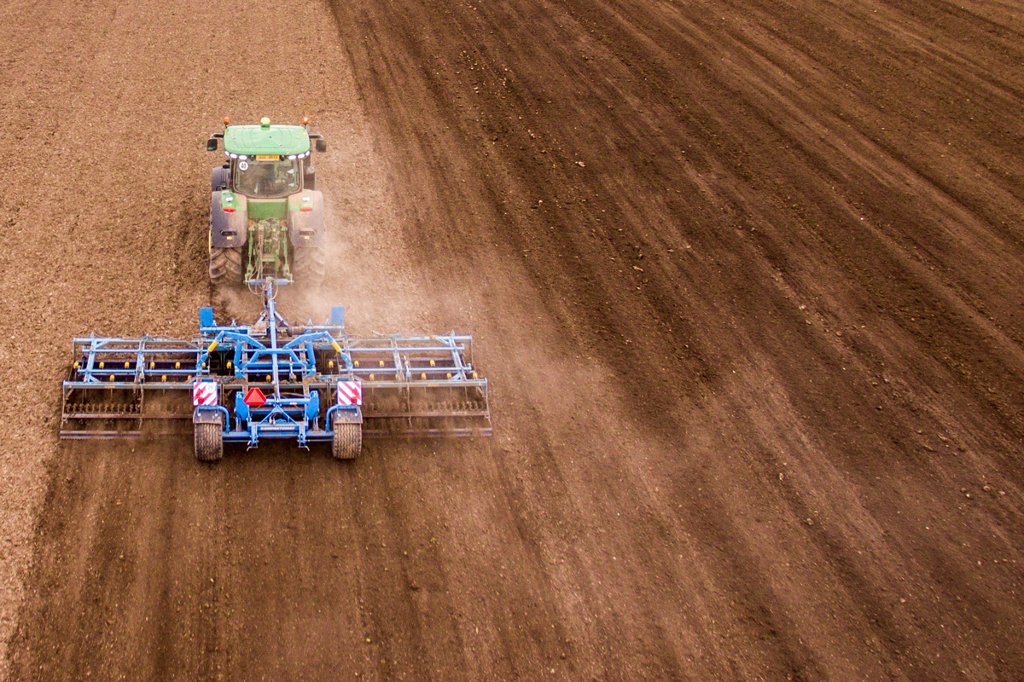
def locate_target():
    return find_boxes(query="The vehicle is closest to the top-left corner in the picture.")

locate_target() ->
[208,114,324,294]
